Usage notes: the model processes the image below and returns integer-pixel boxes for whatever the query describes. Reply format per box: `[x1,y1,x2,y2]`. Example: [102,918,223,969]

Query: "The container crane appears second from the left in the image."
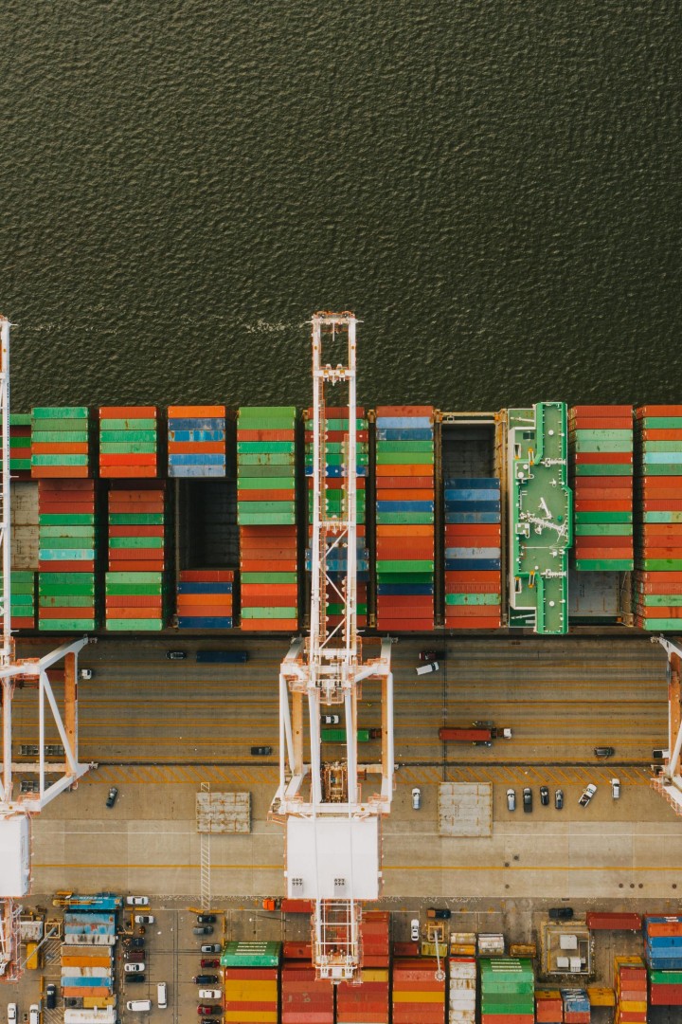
[268,309,399,988]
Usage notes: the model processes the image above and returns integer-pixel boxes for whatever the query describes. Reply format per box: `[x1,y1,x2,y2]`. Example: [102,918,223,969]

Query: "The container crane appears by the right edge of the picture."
[642,636,682,823]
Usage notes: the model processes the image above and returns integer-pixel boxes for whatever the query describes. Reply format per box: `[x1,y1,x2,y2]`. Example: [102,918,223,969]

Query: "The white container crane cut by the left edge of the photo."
[0,311,103,982]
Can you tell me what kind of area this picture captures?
port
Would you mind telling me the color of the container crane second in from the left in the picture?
white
